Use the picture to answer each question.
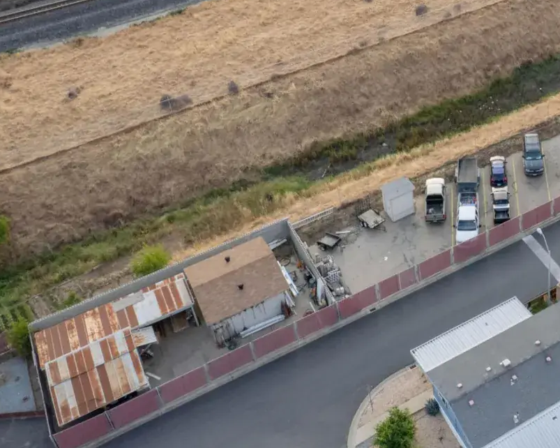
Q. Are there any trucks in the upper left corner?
No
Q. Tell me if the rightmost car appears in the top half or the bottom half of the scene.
top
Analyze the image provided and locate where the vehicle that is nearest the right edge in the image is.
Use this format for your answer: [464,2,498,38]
[520,130,546,172]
